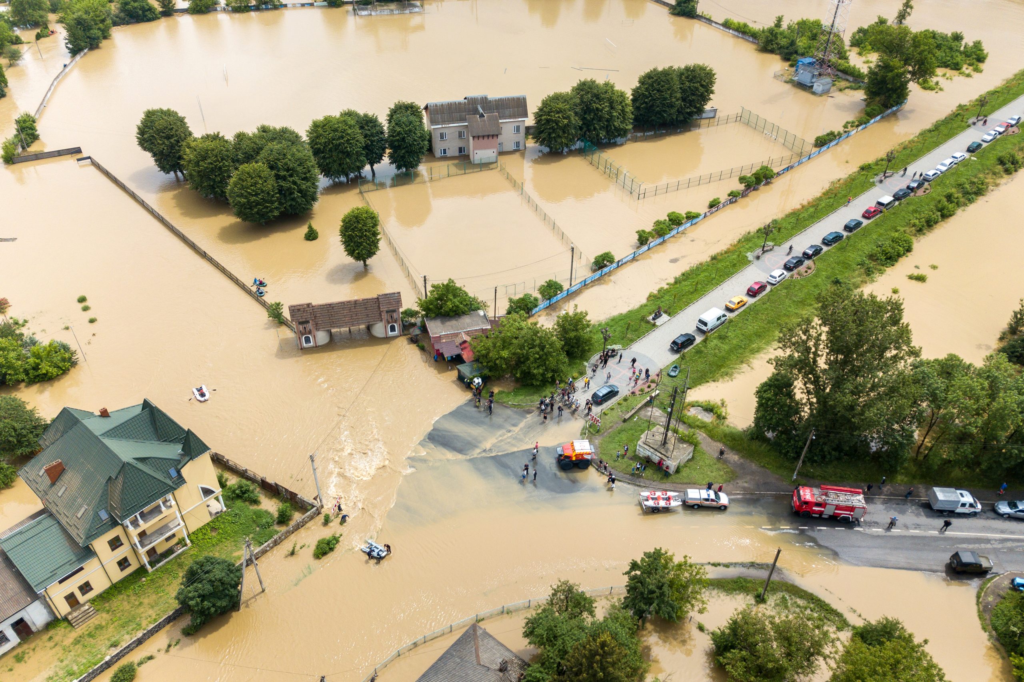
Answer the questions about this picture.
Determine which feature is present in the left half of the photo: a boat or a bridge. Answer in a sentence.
The one visible in the left half of the photo is a boat.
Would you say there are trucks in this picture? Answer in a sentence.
Yes, a truck appears in the view.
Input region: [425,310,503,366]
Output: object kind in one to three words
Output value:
building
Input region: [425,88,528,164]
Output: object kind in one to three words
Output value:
house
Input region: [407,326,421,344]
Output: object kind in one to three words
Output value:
umbrella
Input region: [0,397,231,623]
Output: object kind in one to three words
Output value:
house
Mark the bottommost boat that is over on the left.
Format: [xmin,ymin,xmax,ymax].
[357,538,393,562]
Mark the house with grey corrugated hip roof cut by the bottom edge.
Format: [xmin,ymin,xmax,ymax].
[418,623,547,682]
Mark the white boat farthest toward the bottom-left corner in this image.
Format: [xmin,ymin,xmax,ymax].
[184,383,213,401]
